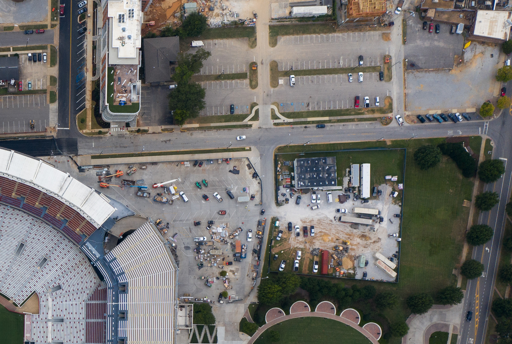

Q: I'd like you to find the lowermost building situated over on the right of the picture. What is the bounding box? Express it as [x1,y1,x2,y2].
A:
[292,156,337,190]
